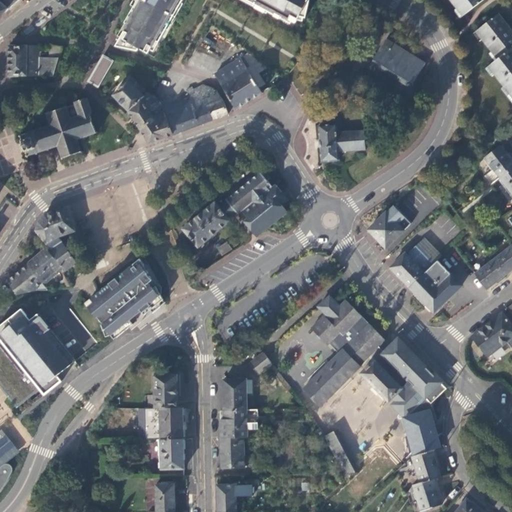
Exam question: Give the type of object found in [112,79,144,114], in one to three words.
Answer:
house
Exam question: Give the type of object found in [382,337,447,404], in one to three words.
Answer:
building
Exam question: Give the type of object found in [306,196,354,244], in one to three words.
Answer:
roundabout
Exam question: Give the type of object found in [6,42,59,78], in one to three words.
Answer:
house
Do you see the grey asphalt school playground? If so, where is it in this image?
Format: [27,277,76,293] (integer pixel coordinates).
[279,312,335,385]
